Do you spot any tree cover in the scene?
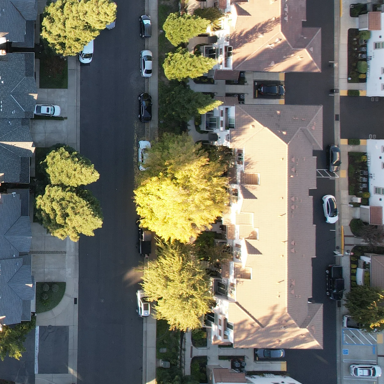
Yes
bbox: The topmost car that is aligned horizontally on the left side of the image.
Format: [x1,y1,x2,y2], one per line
[34,104,61,117]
